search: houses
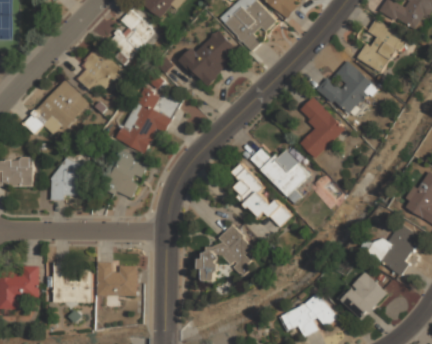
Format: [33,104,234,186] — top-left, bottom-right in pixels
[51,264,92,310]
[281,297,334,338]
[97,262,138,308]
[194,224,250,282]
[112,9,156,64]
[298,100,347,160]
[318,64,378,116]
[38,80,88,133]
[405,170,432,228]
[342,275,388,314]
[50,158,82,200]
[0,158,35,188]
[109,150,146,200]
[0,267,38,312]
[177,32,232,84]
[230,164,292,228]
[142,0,186,18]
[260,149,312,198]
[364,226,418,275]
[116,78,178,152]
[76,54,120,90]
[264,0,298,16]
[220,0,278,50]
[358,22,404,72]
